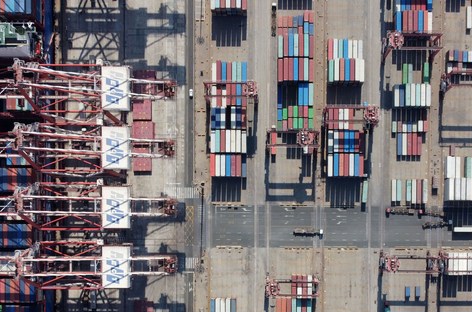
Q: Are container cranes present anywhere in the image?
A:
Yes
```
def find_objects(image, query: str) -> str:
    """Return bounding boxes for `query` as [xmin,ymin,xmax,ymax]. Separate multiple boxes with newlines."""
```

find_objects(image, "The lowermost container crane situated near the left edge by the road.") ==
[0,236,181,291]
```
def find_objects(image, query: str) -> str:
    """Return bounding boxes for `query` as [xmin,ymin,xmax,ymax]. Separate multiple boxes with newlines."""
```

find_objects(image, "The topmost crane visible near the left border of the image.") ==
[0,57,181,130]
